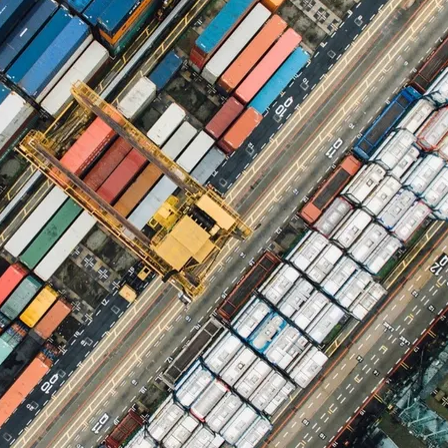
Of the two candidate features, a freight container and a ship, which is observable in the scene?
freight container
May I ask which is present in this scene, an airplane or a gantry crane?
gantry crane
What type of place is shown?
industrial area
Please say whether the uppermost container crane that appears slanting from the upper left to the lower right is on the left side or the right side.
left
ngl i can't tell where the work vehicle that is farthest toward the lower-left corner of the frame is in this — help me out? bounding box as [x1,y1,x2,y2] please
[116,274,147,305]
